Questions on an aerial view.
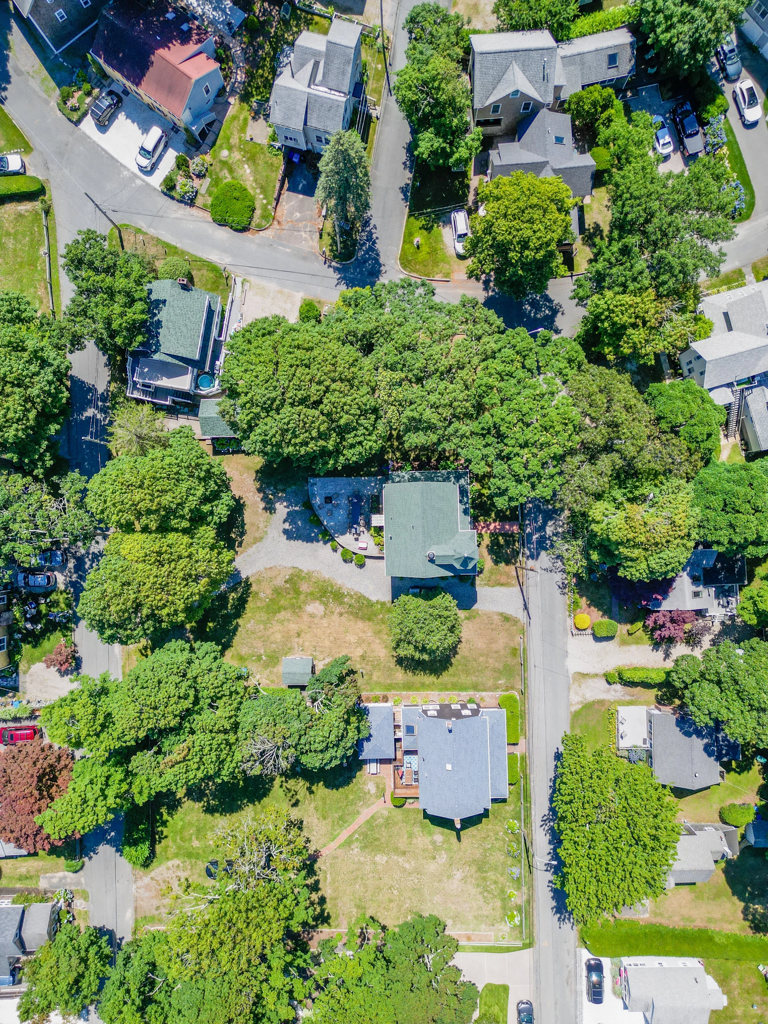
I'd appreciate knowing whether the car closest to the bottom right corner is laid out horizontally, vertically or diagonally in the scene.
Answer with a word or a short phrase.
vertically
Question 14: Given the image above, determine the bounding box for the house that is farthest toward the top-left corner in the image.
[12,0,96,52]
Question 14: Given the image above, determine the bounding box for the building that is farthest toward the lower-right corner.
[614,953,727,1024]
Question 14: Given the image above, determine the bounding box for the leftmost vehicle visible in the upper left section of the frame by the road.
[0,152,27,177]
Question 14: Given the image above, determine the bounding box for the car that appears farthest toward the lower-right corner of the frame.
[583,954,607,1005]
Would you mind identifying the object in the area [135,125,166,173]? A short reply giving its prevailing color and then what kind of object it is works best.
white car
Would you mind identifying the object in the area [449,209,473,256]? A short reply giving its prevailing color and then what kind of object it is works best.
white car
